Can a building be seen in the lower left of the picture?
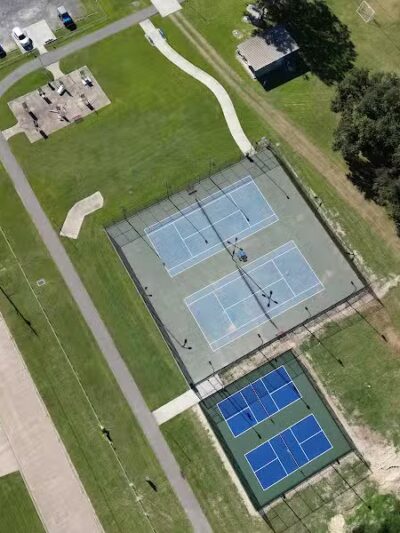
No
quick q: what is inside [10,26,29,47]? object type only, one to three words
car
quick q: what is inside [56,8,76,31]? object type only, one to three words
vehicle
